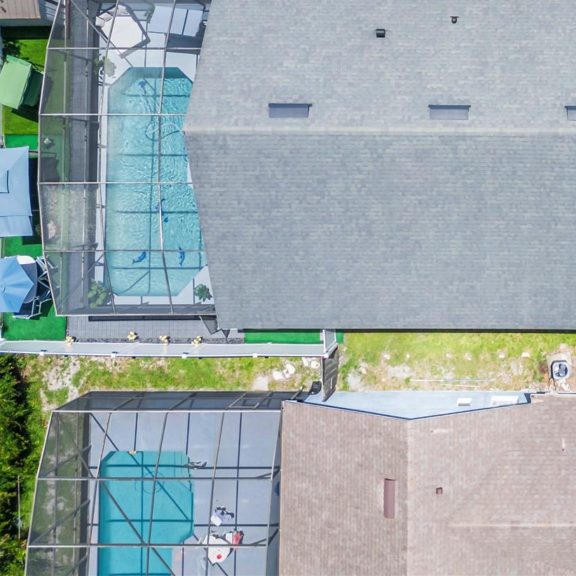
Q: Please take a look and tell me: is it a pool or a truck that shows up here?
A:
pool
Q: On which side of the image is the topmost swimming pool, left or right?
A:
left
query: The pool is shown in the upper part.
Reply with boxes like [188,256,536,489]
[106,68,208,296]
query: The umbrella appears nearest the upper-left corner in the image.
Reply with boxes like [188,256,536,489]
[0,147,59,217]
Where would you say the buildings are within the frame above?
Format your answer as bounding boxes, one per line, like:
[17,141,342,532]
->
[0,0,65,22]
[182,0,576,331]
[281,391,576,576]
